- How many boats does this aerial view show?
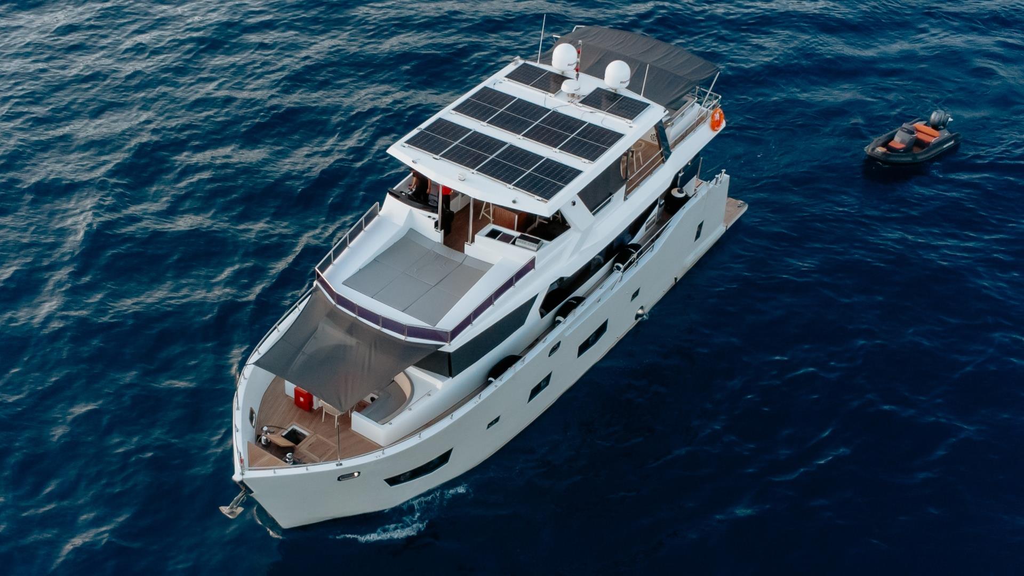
two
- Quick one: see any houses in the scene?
No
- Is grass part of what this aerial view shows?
No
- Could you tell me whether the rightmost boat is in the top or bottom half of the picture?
top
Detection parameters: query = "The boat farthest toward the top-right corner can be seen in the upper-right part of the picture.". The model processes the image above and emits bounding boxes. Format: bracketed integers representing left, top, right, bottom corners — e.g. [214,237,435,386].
[866,107,969,160]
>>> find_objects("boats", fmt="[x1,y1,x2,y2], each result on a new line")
[866,107,969,160]
[220,16,744,526]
